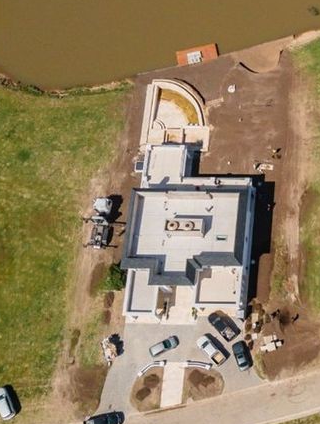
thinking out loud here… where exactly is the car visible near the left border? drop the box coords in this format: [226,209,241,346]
[0,387,18,422]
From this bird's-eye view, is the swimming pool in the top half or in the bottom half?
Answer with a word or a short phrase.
top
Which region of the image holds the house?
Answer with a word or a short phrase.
center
